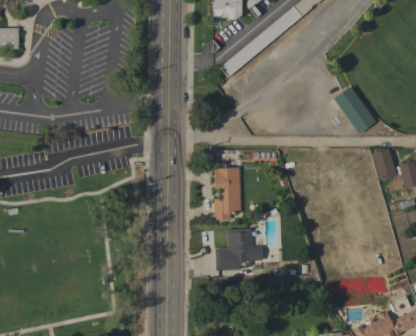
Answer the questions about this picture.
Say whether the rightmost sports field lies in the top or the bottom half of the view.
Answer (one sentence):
You can find the rightmost sports field in the top half.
